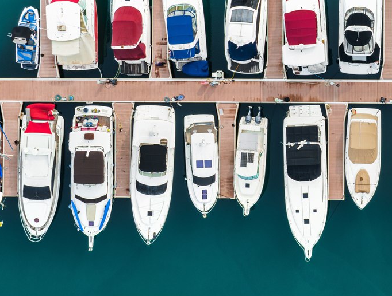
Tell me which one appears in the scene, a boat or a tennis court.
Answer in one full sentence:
This aerial view contains a boat.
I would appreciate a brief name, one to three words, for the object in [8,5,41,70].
boat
